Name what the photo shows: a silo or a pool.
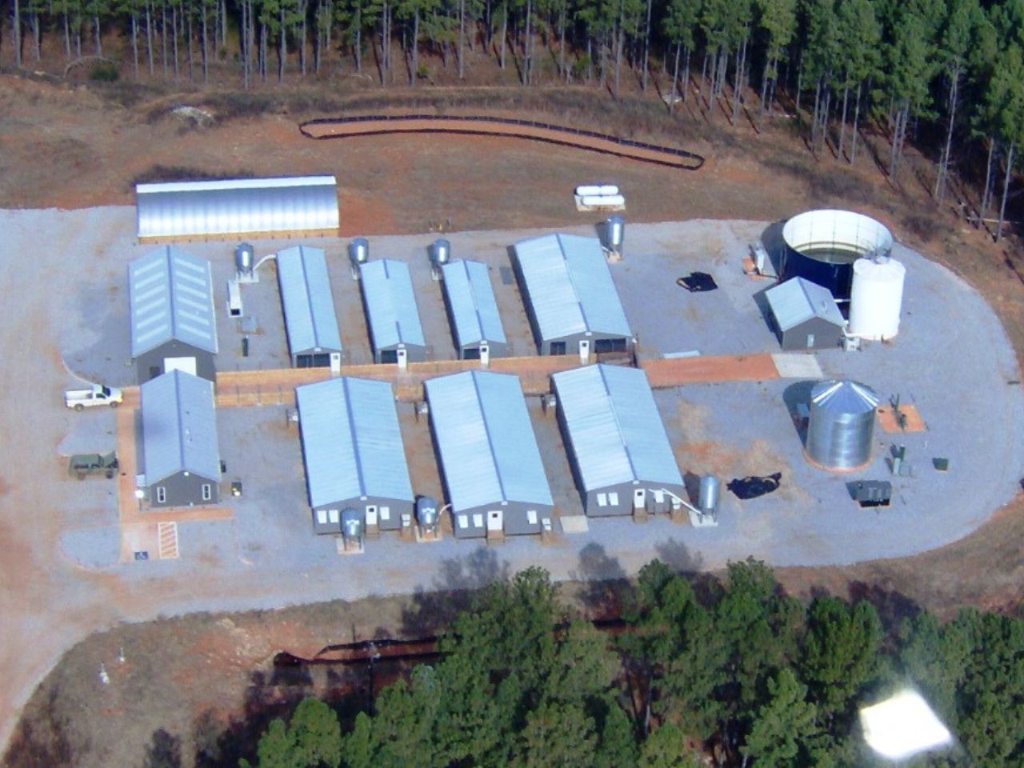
silo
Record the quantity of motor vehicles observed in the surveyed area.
2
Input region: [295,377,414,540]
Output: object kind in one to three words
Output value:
building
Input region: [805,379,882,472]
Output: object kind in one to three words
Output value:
silo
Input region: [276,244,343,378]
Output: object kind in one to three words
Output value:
building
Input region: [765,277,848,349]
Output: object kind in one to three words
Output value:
shed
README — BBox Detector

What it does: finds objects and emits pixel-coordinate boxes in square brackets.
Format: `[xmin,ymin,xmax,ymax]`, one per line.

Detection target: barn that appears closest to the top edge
[137,180,339,243]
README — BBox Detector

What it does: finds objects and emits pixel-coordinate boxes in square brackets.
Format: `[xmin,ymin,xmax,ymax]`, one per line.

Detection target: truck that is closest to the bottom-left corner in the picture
[67,458,120,486]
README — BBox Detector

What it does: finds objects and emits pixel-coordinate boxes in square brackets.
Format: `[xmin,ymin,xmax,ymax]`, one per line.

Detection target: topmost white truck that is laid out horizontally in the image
[63,386,123,412]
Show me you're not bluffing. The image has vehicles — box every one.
[63,386,123,412]
[67,458,120,486]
